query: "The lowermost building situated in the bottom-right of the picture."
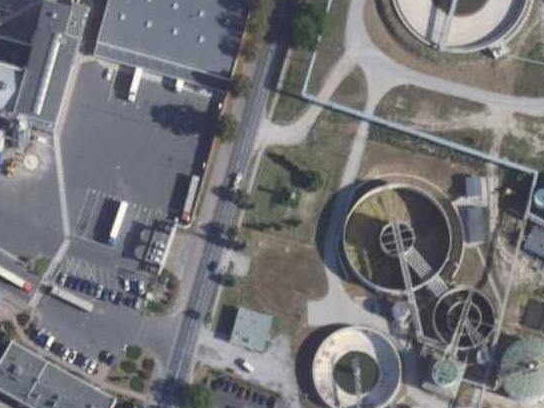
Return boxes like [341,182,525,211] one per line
[389,305,411,337]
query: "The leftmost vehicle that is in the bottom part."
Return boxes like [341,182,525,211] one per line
[0,267,34,292]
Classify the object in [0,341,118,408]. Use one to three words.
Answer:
building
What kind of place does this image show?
industrial area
